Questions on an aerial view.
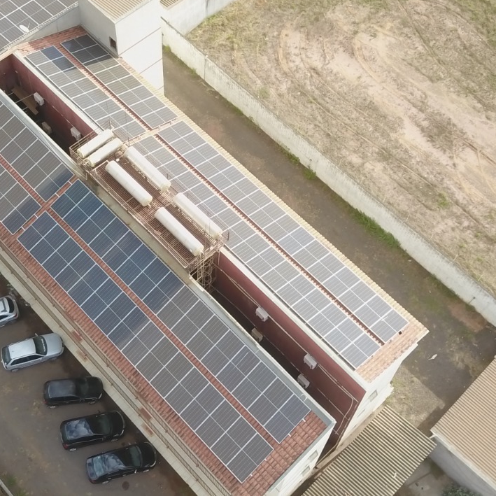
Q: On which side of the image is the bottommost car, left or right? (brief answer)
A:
left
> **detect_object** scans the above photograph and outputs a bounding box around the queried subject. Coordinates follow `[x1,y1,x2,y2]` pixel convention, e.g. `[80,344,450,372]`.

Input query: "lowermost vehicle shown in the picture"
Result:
[82,442,157,487]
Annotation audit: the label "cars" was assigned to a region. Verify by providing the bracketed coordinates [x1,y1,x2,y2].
[0,331,63,370]
[40,371,106,410]
[57,409,127,450]
[0,295,21,328]
[82,442,157,487]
